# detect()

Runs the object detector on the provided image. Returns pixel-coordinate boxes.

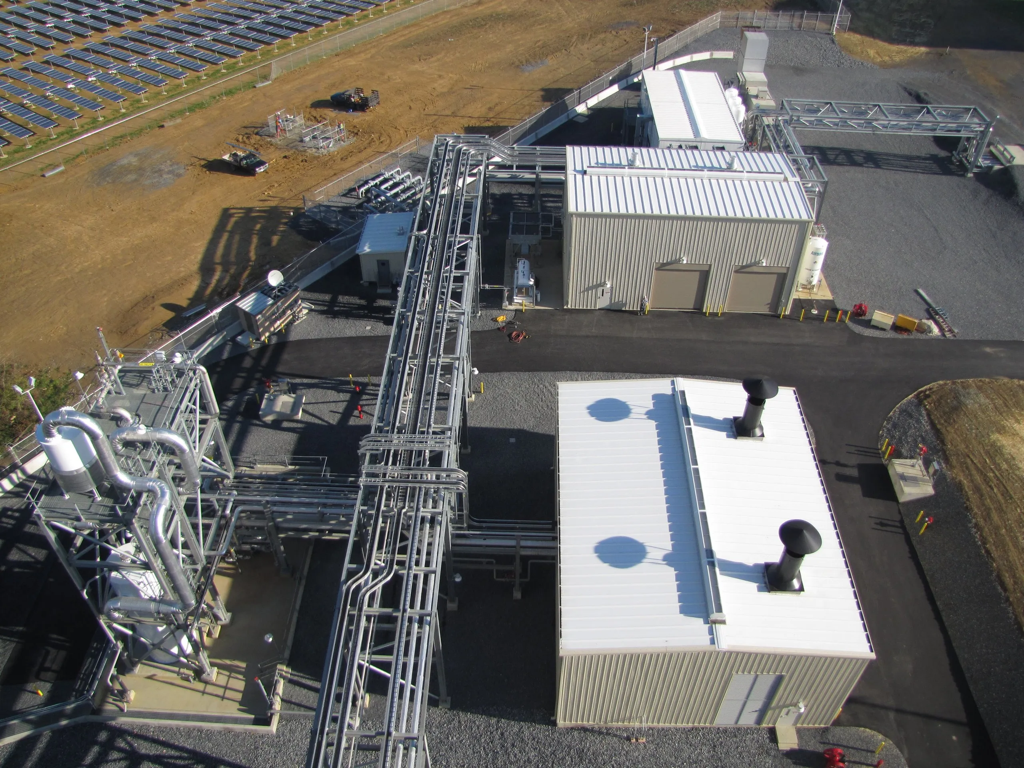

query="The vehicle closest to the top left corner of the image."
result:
[217,145,270,179]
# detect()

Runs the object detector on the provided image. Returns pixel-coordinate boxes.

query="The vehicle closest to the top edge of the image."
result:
[327,81,377,111]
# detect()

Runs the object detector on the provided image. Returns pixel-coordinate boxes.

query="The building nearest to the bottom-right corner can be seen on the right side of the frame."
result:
[547,377,880,756]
